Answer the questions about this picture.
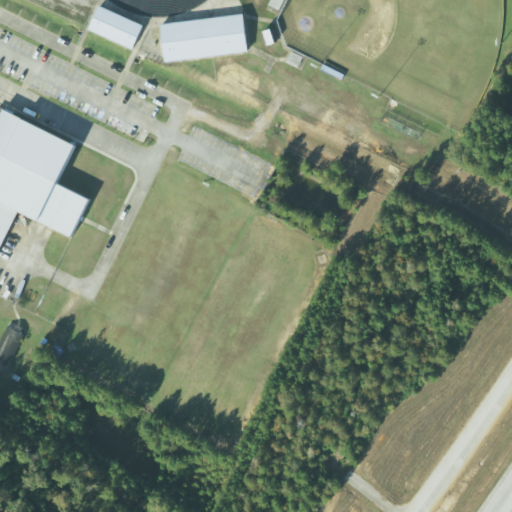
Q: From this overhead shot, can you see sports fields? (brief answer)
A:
Yes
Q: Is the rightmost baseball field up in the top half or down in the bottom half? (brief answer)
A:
top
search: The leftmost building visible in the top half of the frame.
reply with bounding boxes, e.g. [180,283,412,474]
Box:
[0,108,91,250]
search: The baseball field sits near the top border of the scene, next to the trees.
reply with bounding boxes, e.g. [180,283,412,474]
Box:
[279,0,505,127]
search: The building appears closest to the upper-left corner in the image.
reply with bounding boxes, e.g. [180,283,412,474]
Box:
[88,6,143,52]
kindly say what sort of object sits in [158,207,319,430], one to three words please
sports field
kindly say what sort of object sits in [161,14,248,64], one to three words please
building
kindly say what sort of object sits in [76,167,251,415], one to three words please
sports field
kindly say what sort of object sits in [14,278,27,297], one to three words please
vehicle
